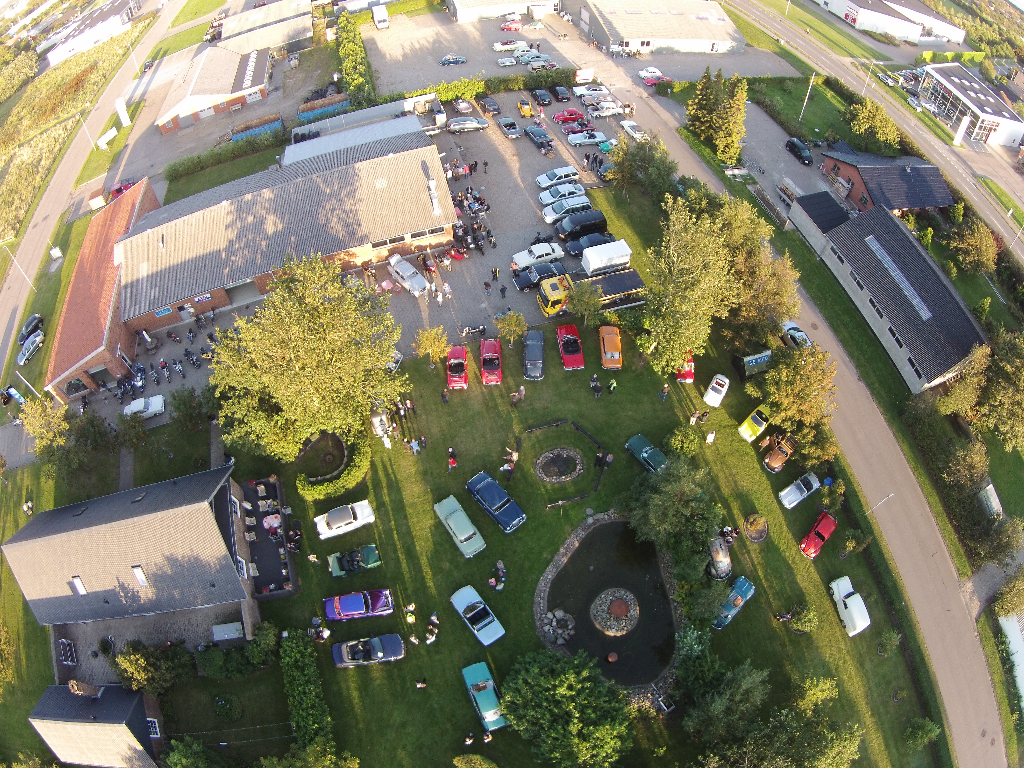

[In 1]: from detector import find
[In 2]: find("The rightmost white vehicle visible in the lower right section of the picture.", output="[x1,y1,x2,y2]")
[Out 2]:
[832,575,875,637]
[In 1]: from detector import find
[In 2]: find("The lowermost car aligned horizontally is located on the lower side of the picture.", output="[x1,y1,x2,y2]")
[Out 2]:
[332,633,407,670]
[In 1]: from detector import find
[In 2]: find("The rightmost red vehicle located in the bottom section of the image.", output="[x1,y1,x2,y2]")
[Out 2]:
[800,509,841,560]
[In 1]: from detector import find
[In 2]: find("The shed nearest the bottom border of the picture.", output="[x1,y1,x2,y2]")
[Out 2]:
[28,684,172,768]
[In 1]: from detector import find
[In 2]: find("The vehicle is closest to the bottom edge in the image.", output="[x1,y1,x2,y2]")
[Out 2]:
[459,661,514,734]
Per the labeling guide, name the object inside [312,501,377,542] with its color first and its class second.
white car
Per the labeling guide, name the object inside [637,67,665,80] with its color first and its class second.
white vehicle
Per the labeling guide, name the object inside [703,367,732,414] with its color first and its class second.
white car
